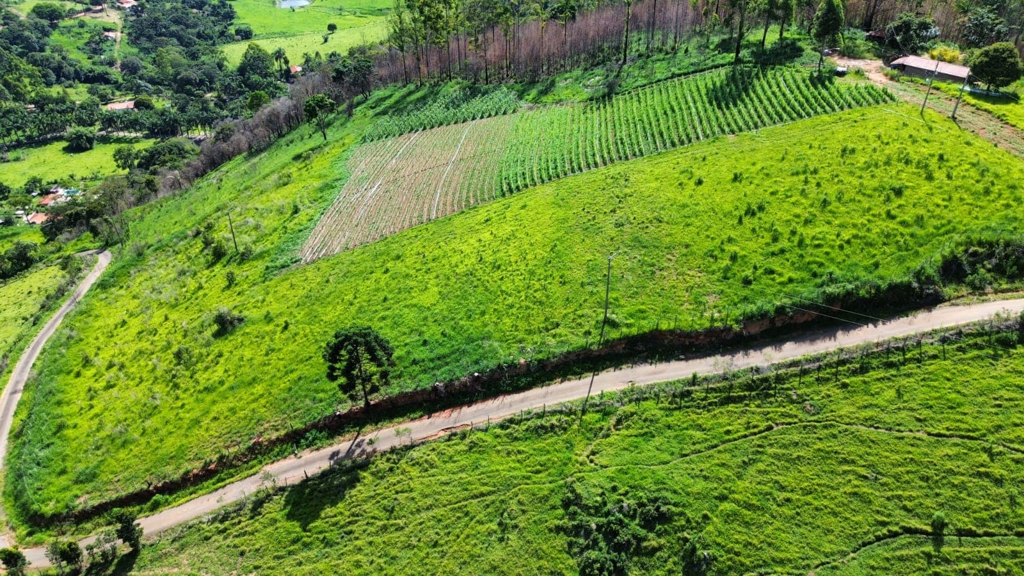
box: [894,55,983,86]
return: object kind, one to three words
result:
shed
